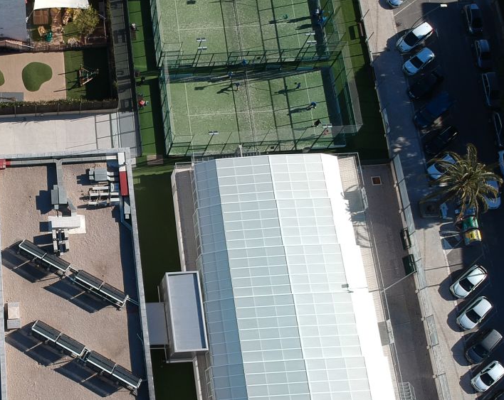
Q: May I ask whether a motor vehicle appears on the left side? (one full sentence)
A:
No, no motor vehicle is visible on the left side.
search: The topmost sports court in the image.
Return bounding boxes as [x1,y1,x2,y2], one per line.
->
[150,0,348,69]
